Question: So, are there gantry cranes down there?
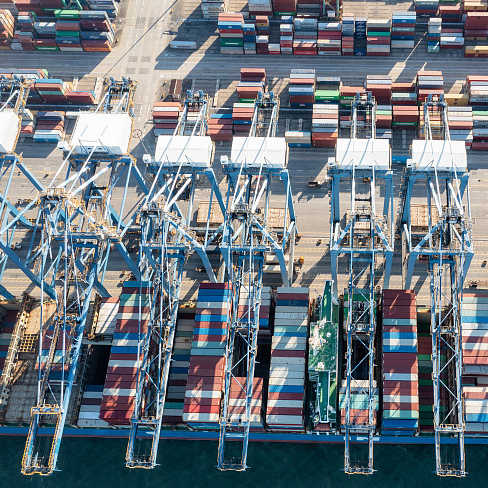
Yes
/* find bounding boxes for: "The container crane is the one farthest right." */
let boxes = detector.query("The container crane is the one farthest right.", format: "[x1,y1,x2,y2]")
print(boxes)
[392,87,479,479]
